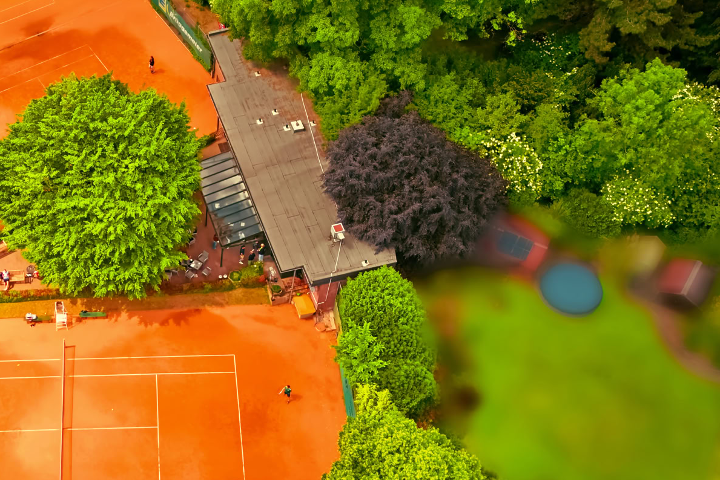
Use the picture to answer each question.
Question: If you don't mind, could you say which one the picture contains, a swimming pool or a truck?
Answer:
swimming pool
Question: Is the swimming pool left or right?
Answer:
right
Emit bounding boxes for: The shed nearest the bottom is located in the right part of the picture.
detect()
[653,260,720,322]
